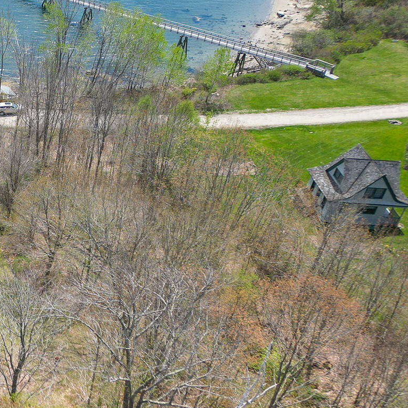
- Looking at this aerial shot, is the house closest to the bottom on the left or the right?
right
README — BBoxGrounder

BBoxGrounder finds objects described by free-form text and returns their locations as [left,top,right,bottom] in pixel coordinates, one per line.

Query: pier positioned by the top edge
[44,0,347,83]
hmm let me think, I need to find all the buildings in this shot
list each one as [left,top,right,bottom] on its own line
[304,143,408,228]
[0,82,19,103]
